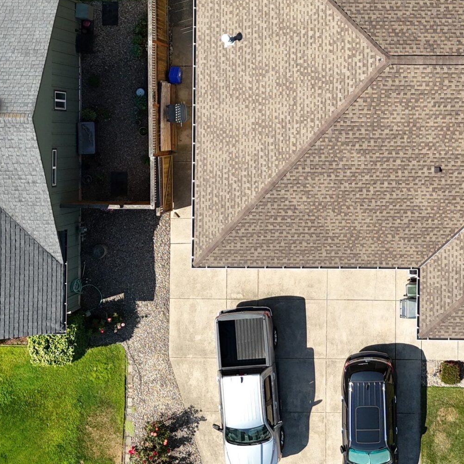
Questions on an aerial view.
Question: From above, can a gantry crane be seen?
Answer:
No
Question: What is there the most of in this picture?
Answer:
buildings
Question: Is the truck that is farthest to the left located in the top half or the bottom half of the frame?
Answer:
bottom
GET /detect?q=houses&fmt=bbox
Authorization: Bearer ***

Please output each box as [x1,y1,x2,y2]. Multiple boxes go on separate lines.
[192,0,464,339]
[0,0,81,340]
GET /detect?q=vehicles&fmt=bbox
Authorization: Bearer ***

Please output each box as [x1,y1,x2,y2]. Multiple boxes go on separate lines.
[209,305,289,464]
[337,347,404,464]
